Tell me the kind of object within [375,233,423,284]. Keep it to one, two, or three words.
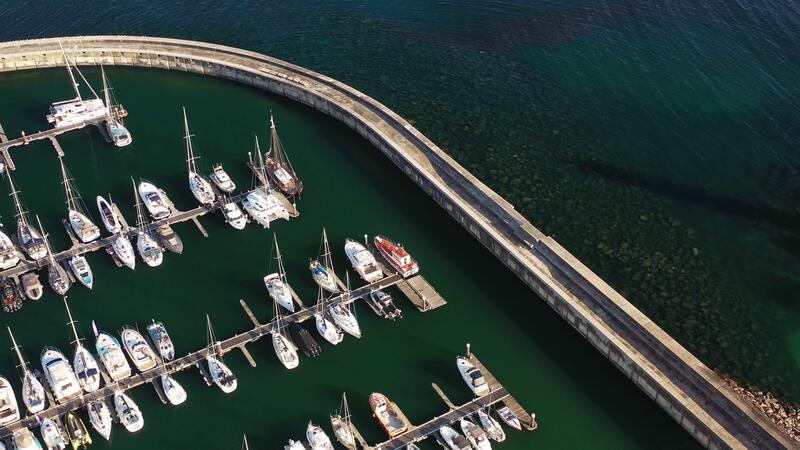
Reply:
boat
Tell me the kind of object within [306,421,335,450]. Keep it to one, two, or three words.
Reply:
boat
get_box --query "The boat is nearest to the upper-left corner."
[47,38,110,130]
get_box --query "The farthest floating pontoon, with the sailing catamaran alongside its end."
[0,115,113,171]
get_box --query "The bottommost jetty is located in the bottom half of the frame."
[348,352,537,450]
